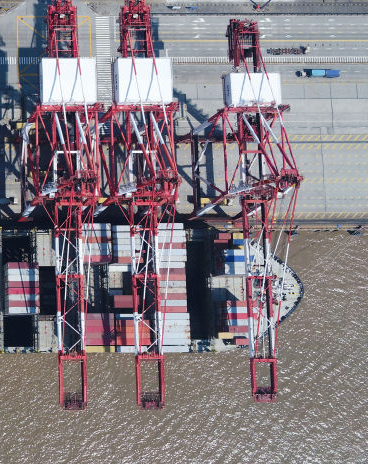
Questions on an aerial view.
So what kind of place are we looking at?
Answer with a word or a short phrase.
port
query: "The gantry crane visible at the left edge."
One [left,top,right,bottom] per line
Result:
[8,0,109,414]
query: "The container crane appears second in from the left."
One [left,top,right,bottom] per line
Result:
[77,0,184,414]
